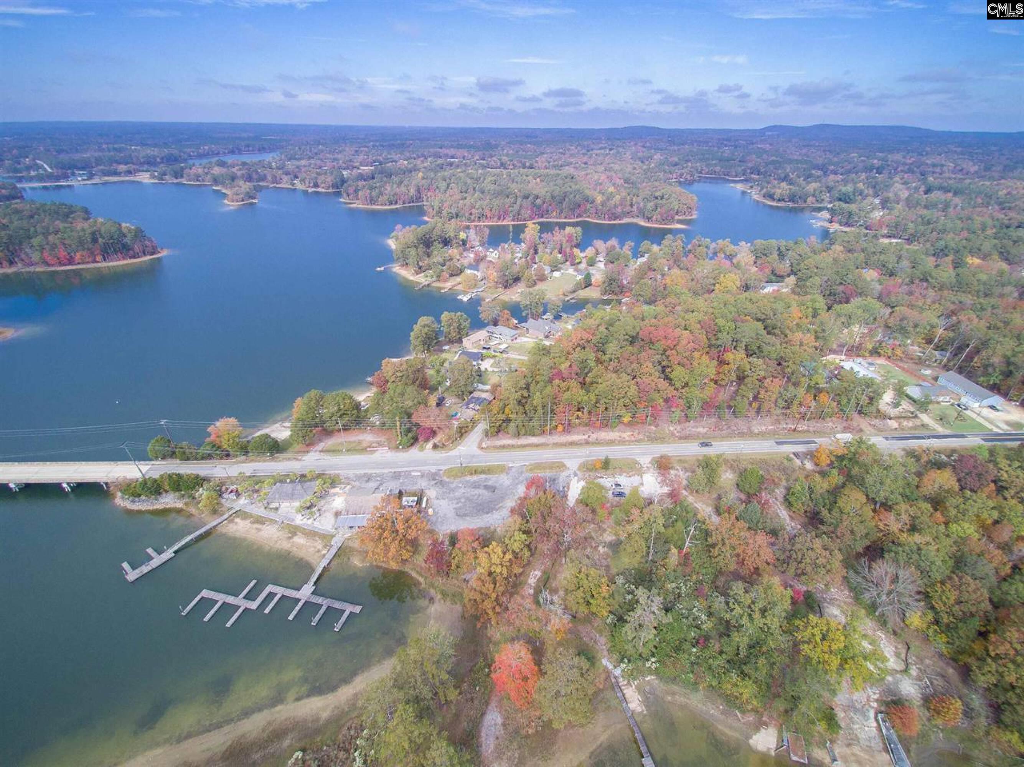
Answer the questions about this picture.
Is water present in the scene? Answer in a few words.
Yes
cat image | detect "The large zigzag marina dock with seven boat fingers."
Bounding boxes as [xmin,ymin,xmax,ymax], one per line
[178,580,364,632]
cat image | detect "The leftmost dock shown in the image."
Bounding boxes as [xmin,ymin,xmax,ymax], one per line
[121,544,172,582]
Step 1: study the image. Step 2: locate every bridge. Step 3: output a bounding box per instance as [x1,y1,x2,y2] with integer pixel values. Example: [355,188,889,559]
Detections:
[0,456,173,493]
